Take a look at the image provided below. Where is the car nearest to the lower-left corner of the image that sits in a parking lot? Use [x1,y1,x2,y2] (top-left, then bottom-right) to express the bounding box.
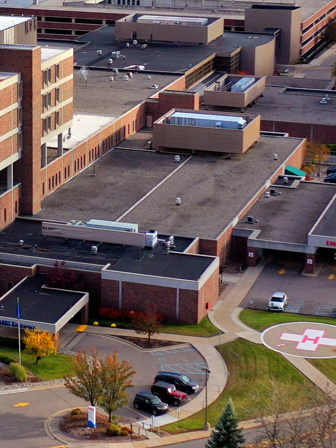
[130,389,170,416]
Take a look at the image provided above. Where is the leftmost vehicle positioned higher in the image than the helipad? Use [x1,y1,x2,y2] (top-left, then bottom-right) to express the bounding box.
[270,288,289,309]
